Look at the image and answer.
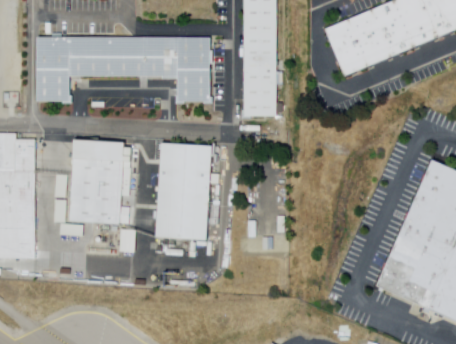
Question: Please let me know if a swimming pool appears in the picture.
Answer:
No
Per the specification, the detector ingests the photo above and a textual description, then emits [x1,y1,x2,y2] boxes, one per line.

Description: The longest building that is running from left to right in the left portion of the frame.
[36,37,213,104]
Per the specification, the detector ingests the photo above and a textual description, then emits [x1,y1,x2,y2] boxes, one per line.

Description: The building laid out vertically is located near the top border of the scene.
[242,0,283,120]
